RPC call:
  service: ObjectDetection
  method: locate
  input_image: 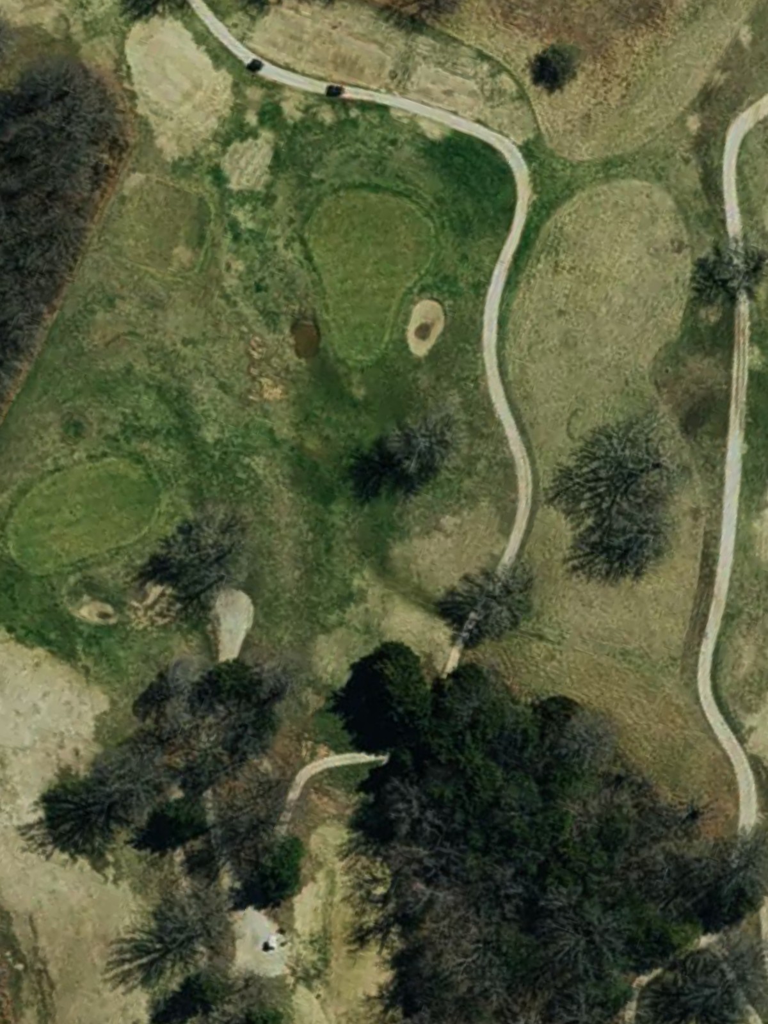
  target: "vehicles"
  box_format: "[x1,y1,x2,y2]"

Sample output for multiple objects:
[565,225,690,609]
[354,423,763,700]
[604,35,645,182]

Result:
[269,932,279,947]
[248,58,264,70]
[328,85,343,95]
